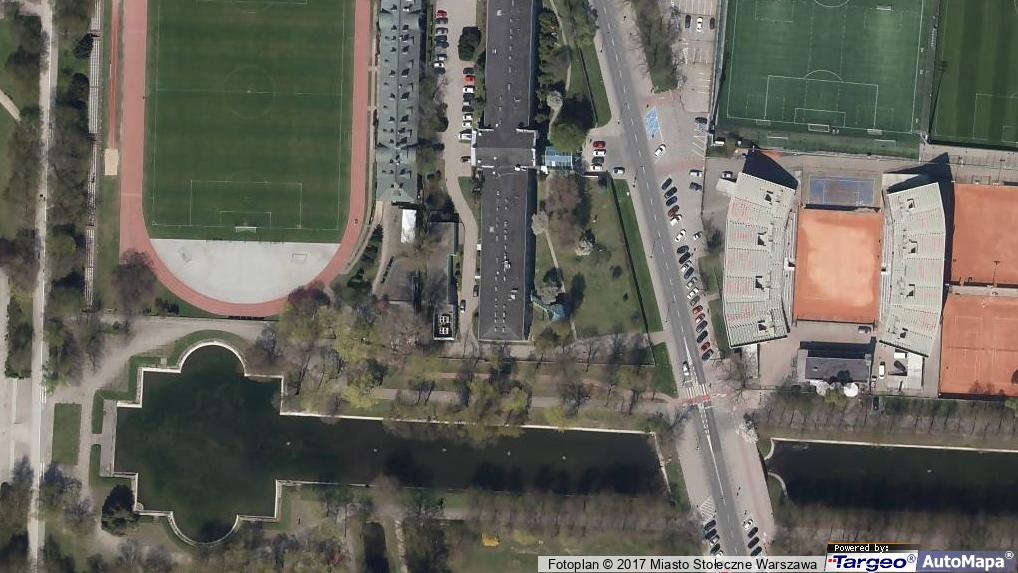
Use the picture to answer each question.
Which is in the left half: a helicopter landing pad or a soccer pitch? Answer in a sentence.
It is a soccer pitch that can be seen in the left half.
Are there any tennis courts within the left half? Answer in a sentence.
No, no tennis court can be made out within the left half.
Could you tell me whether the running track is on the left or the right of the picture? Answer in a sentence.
The running track is on the left side of the image.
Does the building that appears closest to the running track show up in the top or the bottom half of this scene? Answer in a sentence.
It is in the top half that the building that appears closest to the running track appears.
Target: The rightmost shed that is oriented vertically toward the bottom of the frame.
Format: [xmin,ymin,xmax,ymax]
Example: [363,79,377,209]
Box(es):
[907,353,923,388]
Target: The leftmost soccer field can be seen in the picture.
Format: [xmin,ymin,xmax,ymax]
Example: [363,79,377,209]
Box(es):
[142,0,354,242]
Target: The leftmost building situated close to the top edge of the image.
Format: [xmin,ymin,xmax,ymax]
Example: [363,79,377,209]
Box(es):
[376,0,422,203]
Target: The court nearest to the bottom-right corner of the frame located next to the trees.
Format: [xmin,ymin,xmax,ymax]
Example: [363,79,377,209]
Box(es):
[939,295,1018,396]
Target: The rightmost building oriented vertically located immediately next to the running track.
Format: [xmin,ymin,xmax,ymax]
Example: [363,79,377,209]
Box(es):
[470,0,537,342]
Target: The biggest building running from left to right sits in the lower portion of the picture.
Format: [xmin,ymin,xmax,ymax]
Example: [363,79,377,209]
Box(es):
[795,350,872,383]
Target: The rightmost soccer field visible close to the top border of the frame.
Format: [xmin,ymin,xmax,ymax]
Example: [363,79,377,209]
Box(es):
[933,0,1018,145]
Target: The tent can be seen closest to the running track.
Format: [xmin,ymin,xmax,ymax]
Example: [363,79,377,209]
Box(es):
[402,210,417,243]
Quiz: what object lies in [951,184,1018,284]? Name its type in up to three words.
tennis court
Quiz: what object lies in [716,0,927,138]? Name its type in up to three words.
soccer field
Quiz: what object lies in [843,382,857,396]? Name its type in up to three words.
umbrella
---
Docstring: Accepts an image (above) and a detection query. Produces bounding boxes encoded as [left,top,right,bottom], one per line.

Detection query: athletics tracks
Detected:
[119,0,369,316]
